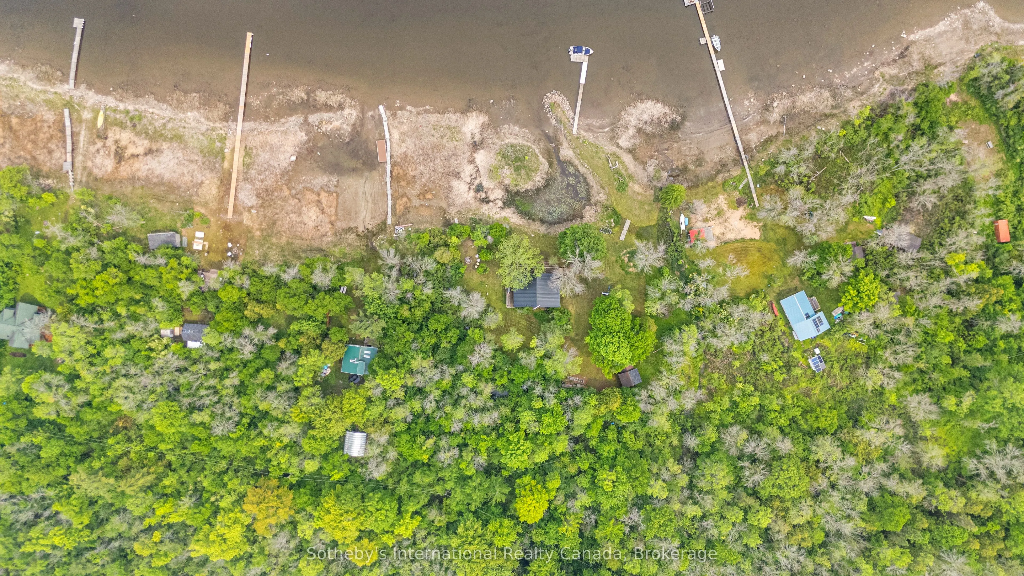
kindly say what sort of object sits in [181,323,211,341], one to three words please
building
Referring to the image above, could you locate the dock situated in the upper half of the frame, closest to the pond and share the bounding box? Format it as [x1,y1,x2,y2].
[569,55,589,135]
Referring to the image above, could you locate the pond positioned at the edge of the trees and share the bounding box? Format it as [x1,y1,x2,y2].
[509,150,592,224]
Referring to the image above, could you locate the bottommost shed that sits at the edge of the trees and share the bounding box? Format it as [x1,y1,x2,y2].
[344,432,367,458]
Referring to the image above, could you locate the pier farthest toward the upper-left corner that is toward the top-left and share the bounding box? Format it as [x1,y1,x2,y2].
[69,18,85,89]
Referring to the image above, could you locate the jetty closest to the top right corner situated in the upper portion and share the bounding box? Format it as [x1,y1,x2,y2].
[684,0,757,205]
